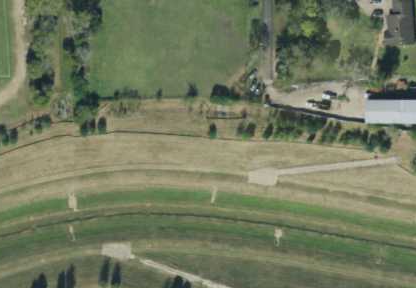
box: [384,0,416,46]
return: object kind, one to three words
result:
house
